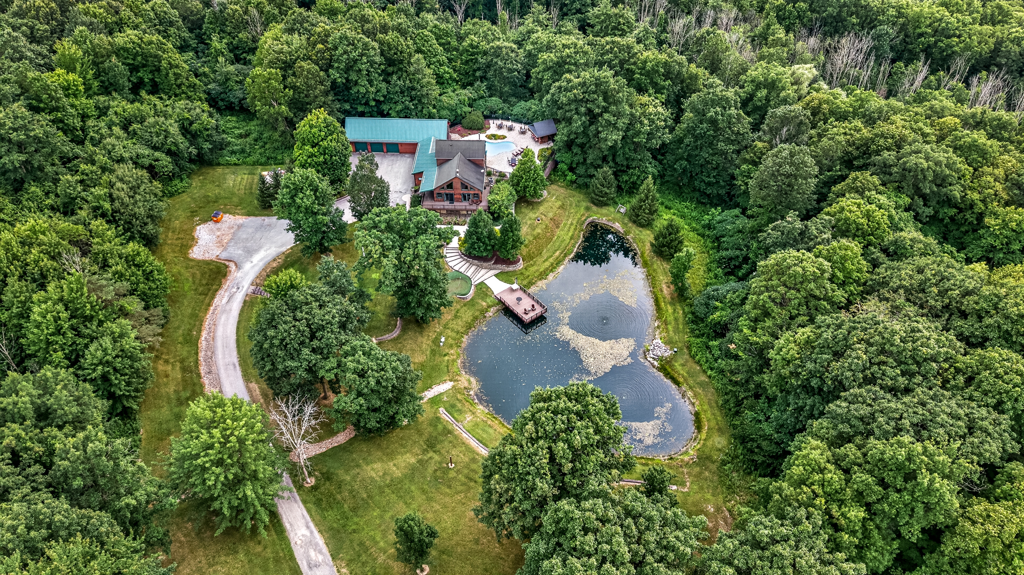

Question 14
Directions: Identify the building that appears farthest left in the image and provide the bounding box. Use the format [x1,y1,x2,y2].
[343,114,490,220]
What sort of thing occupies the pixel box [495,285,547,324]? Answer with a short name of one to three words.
pier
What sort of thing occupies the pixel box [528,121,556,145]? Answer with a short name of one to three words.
shed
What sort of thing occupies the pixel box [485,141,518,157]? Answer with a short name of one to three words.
swimming pool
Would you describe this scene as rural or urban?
rural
